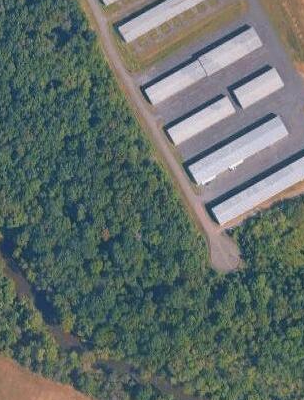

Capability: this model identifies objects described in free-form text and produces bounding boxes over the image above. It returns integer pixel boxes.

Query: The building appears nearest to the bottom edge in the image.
[212,157,304,225]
